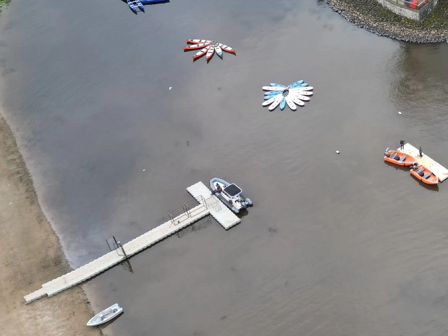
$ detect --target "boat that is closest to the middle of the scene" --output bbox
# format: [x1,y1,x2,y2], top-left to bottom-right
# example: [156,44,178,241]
[209,177,254,214]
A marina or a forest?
marina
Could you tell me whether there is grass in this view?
No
